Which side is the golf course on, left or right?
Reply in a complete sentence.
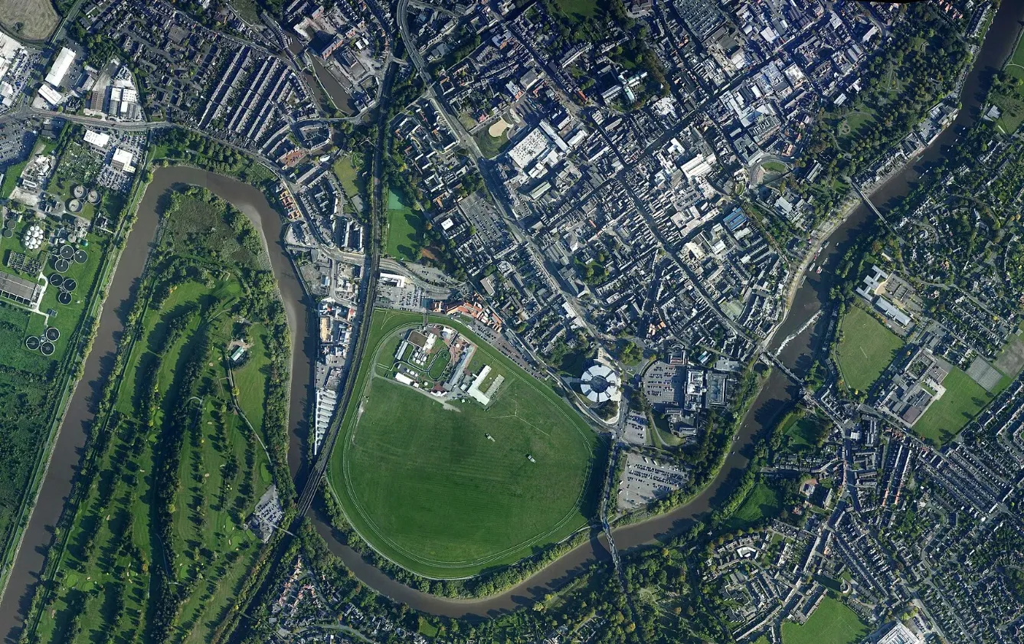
It is on the left.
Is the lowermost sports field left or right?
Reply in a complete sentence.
The lowermost sports field appears in the right half of the scene.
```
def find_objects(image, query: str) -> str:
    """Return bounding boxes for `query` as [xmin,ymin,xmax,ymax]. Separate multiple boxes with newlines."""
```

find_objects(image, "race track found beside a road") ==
[326,308,606,578]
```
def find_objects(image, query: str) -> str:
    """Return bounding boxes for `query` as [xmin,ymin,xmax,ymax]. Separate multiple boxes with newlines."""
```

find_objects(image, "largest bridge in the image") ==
[294,75,392,516]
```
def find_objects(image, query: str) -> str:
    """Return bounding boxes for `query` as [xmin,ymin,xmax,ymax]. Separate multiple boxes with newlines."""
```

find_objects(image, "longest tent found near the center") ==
[468,365,491,405]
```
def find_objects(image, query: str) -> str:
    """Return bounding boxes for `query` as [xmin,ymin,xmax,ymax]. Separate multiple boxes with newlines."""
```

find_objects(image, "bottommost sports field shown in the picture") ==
[782,593,868,644]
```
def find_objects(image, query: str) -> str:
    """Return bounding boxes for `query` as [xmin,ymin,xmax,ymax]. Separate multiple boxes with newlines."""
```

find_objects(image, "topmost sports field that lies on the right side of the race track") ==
[837,308,904,393]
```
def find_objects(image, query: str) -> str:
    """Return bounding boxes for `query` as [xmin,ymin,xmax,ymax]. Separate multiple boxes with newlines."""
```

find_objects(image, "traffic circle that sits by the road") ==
[612,335,651,377]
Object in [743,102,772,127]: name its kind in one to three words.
building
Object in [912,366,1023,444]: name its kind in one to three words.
sports field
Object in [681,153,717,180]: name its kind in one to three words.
building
